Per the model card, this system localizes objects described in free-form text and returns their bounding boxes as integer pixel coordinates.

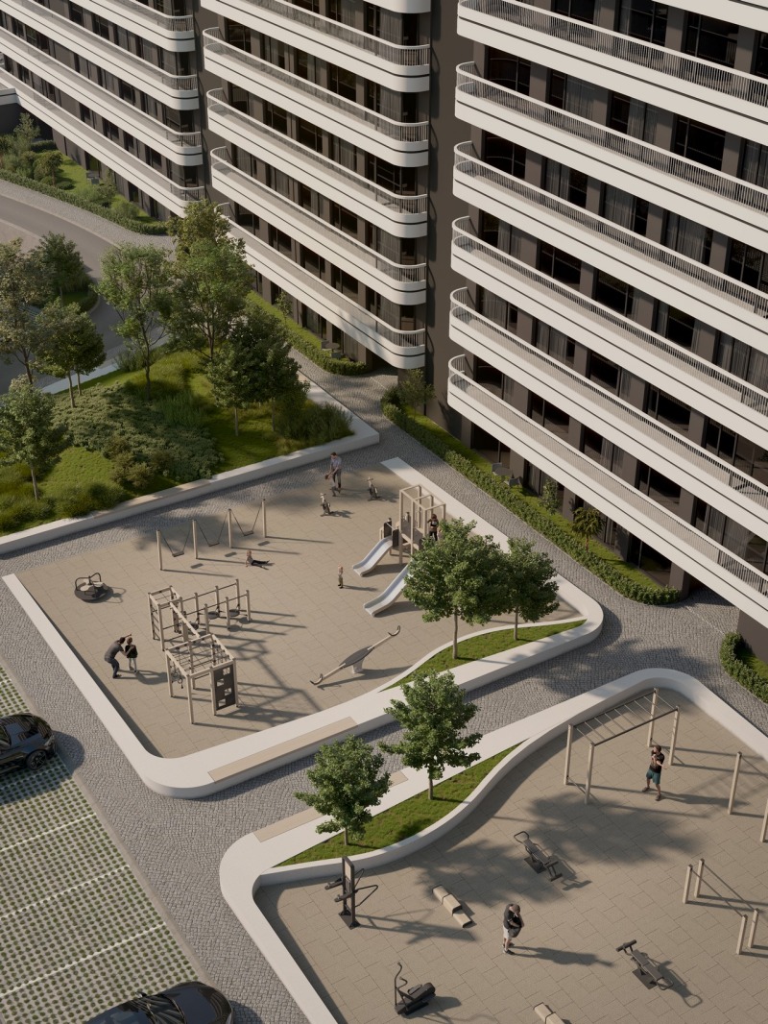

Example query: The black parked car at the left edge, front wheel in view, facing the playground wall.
[0,706,59,772]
